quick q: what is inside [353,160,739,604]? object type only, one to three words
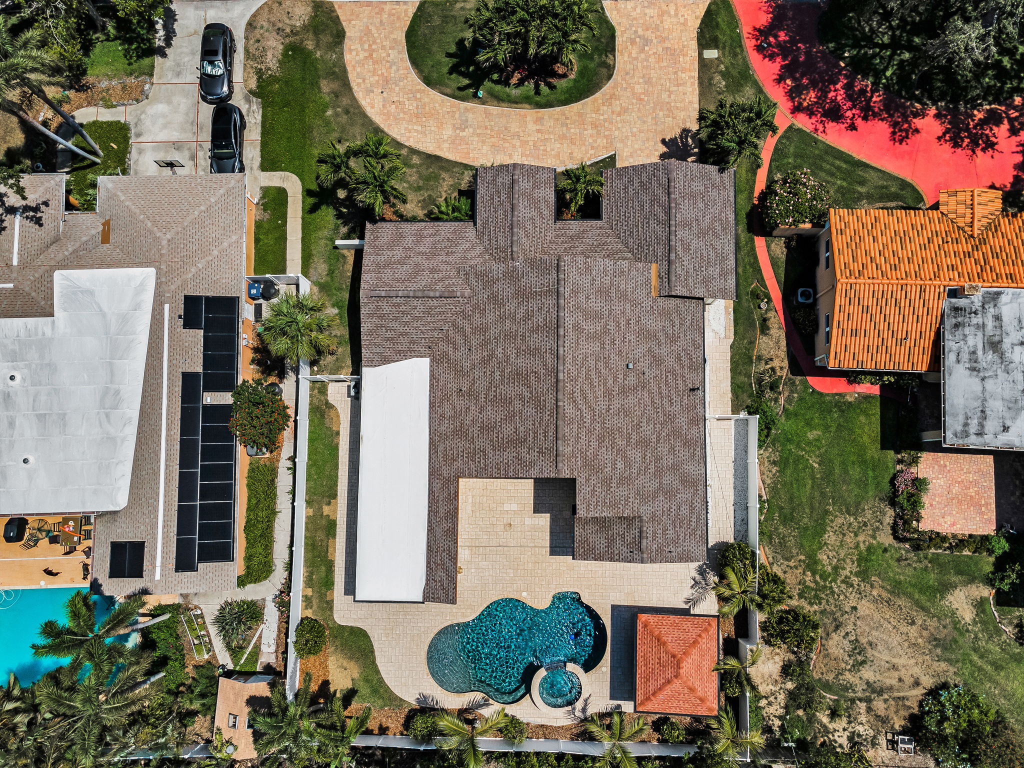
house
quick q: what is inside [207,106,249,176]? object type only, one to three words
car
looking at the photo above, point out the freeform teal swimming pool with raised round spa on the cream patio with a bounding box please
[422,586,612,719]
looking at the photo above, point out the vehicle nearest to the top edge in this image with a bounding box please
[198,25,240,105]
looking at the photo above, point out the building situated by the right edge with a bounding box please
[816,188,1024,452]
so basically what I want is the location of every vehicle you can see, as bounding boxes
[198,25,240,105]
[207,106,249,176]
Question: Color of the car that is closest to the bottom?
black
